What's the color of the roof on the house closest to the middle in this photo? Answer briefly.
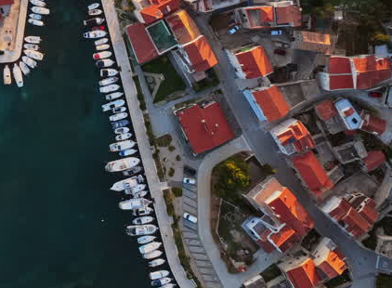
red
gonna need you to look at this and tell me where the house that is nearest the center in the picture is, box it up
[176,101,234,152]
